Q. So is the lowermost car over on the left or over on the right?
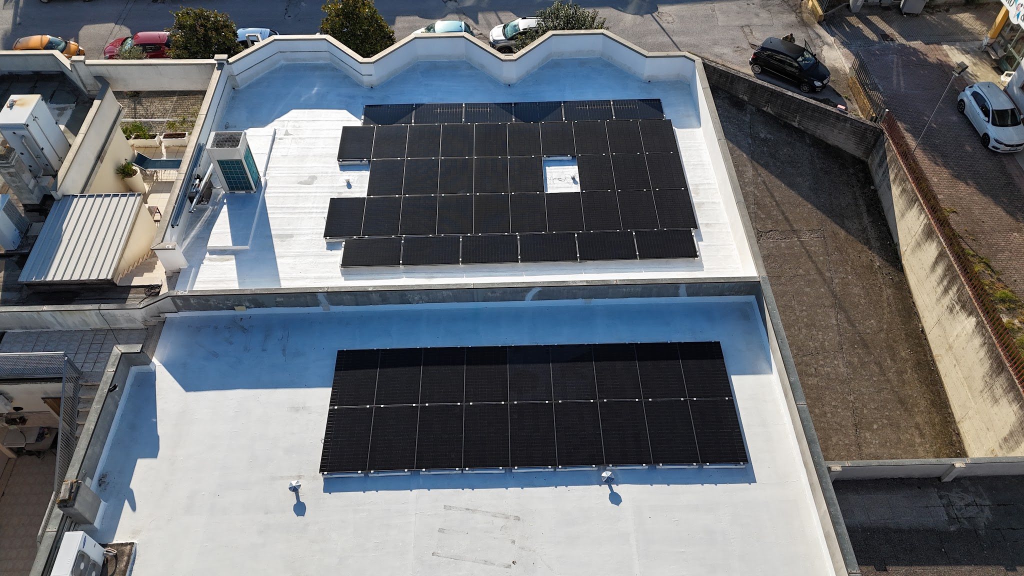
right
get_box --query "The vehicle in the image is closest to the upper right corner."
[959,84,1024,154]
